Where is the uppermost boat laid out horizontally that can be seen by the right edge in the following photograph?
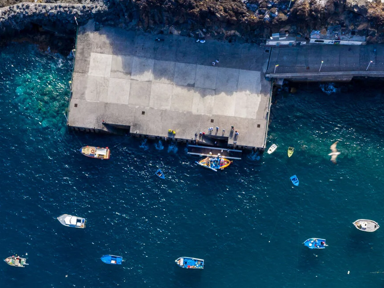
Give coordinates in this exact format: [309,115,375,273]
[353,218,383,231]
